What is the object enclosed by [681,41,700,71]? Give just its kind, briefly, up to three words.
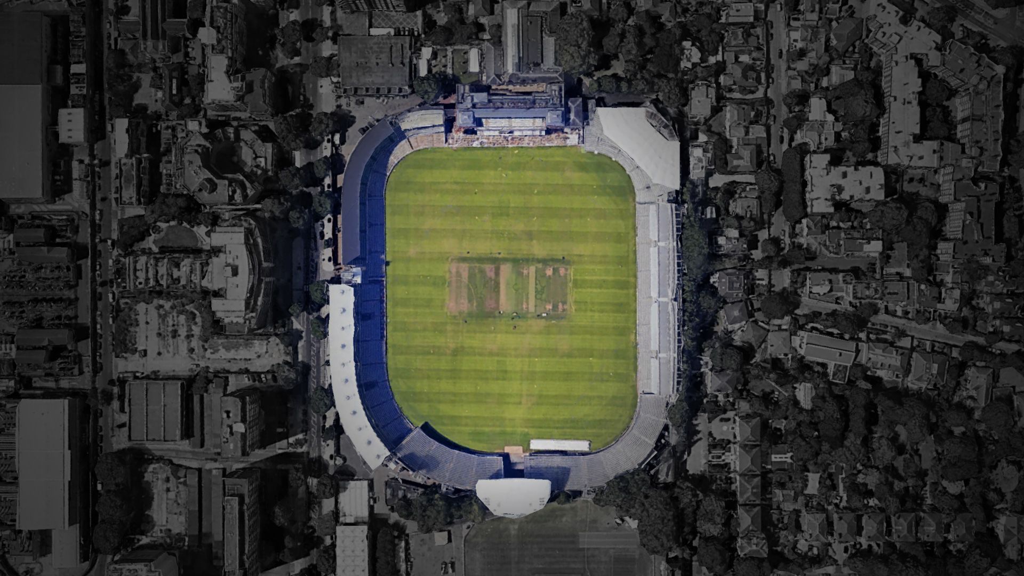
house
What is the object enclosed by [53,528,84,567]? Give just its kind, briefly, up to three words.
shed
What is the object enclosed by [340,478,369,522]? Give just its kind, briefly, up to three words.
building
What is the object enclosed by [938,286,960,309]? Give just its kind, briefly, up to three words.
house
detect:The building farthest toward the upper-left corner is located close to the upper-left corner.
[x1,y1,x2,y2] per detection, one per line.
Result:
[0,11,51,88]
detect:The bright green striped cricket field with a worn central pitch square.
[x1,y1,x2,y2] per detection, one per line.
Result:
[386,146,638,454]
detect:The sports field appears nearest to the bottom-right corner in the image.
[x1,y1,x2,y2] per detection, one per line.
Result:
[464,500,653,576]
